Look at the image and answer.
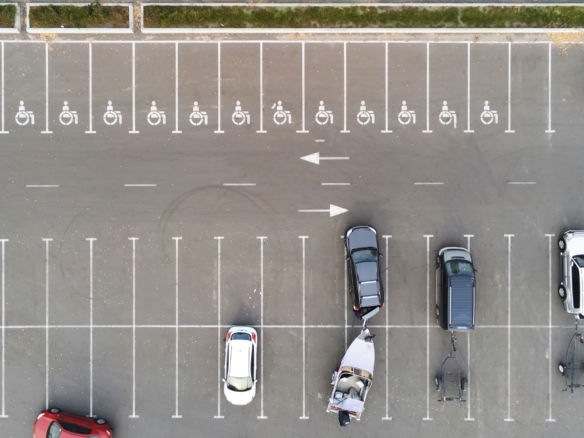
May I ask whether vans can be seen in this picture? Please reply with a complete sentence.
Yes, a van is visible in the scene.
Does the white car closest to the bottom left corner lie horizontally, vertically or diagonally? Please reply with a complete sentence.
The white car closest to the bottom left corner is laid out vertically.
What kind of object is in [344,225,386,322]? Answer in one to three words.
car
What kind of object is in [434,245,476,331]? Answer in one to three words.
van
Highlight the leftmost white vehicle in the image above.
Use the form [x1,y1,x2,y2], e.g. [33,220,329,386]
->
[220,324,259,405]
